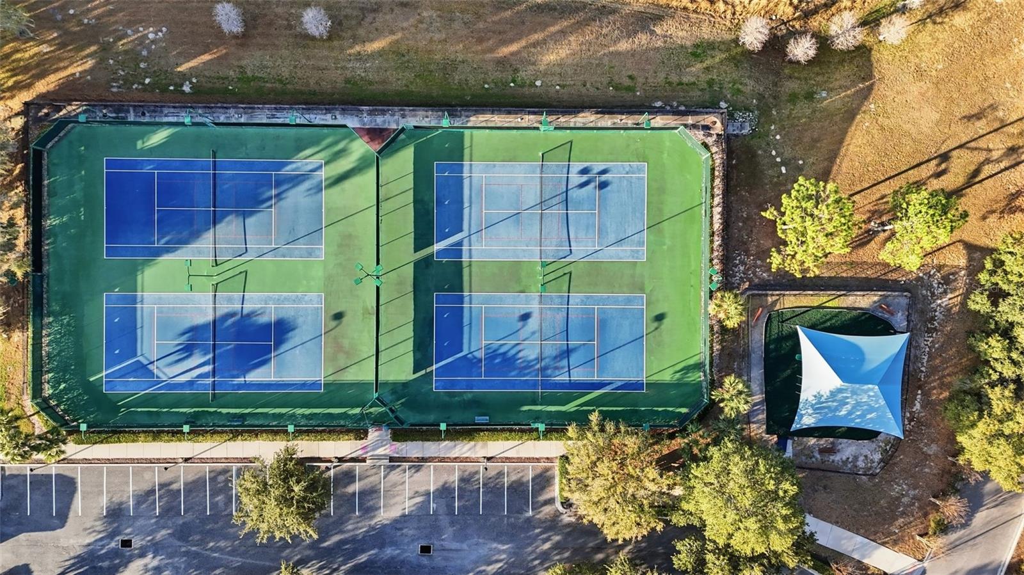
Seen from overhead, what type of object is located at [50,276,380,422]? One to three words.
tennis court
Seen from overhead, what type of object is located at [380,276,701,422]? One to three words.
tennis court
